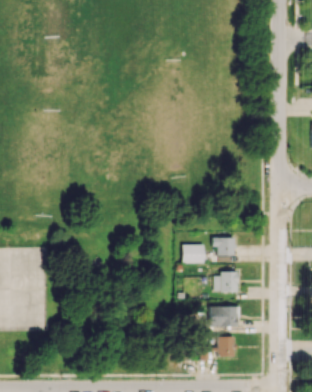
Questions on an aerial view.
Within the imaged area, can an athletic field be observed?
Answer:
Yes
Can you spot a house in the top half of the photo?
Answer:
No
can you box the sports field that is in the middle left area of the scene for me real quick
[12,110,73,217]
